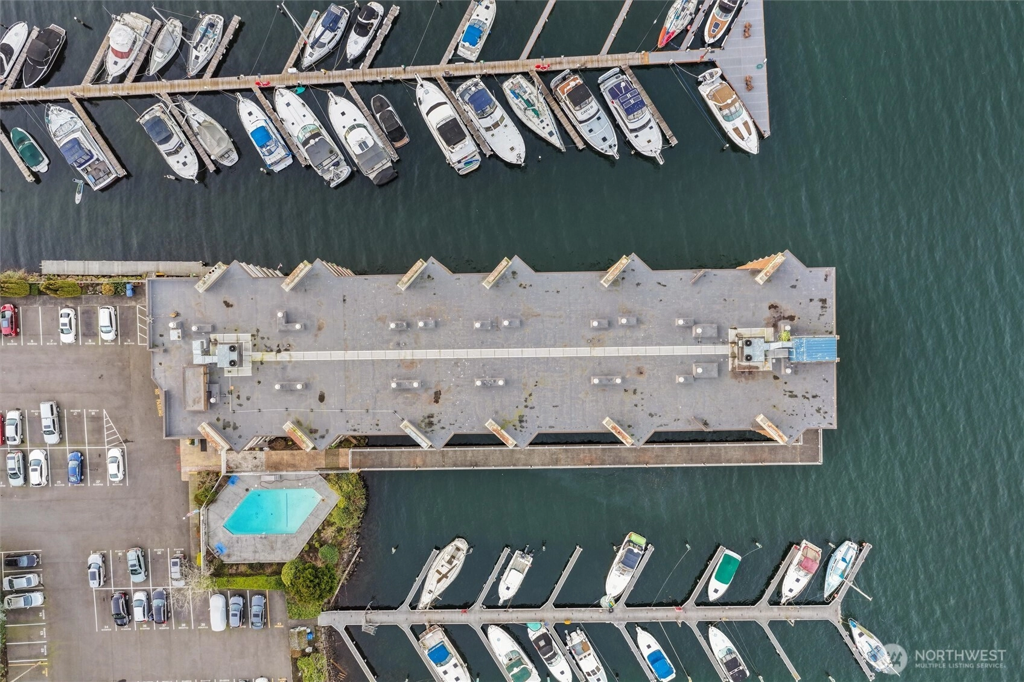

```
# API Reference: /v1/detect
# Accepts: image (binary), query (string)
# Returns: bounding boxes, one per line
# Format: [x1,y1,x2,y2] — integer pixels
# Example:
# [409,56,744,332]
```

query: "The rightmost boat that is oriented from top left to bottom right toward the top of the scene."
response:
[695,79,760,155]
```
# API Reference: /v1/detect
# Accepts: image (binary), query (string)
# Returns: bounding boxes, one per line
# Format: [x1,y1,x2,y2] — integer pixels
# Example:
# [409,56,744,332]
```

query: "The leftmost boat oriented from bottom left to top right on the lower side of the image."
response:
[419,534,470,614]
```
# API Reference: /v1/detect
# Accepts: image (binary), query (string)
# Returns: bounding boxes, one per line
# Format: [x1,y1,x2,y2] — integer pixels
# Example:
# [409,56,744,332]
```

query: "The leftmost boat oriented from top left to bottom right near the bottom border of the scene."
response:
[424,624,470,682]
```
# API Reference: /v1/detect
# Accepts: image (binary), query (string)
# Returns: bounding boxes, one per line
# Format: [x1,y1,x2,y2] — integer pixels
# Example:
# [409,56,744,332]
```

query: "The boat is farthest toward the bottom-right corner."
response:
[850,622,896,681]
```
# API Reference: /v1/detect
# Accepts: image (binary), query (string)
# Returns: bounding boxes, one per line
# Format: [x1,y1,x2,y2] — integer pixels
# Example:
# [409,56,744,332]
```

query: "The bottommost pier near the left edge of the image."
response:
[39,260,204,276]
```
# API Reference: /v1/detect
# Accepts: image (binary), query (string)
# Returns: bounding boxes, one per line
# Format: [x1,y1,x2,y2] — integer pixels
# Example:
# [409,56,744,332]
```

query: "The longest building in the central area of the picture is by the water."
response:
[143,249,838,454]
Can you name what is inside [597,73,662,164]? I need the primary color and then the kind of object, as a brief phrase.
white boat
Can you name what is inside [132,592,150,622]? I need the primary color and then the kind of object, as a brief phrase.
white car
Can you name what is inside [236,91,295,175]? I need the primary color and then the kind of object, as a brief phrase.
white boat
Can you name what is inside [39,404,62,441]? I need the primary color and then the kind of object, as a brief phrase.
white car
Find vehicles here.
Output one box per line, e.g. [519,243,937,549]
[132,592,150,622]
[97,306,116,339]
[28,451,48,485]
[5,451,26,485]
[65,452,84,482]
[249,595,266,628]
[39,404,62,441]
[0,305,18,335]
[4,592,41,609]
[3,574,37,591]
[127,549,146,581]
[147,589,169,623]
[86,554,106,587]
[111,593,131,626]
[167,555,186,586]
[4,553,36,569]
[105,449,124,481]
[2,411,22,444]
[58,308,77,341]
[227,595,245,627]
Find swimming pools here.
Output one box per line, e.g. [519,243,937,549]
[208,473,338,563]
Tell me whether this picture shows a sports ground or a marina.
marina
